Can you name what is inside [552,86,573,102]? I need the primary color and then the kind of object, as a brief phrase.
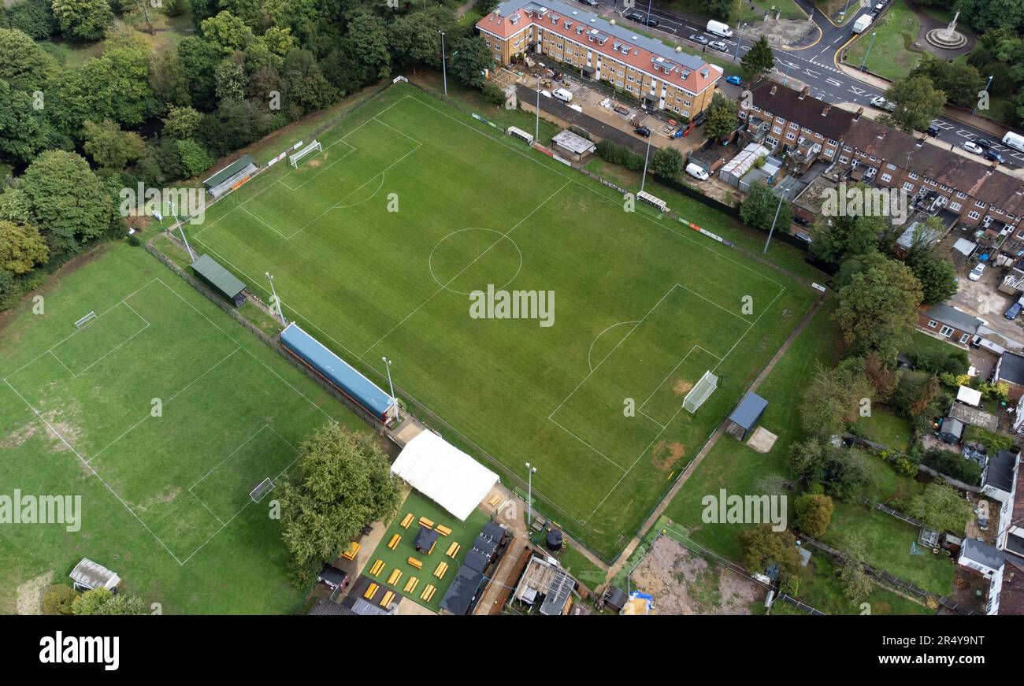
white vehicle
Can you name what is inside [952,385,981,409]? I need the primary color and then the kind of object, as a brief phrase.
white gazebo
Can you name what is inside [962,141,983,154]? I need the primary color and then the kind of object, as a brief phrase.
white vehicle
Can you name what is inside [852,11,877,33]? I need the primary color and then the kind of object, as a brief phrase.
white truck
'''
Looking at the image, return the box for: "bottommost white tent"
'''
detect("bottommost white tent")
[389,417,501,519]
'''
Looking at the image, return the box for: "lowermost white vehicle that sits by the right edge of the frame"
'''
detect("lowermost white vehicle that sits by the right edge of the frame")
[967,263,988,279]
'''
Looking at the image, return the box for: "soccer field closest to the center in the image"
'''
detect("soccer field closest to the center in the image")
[169,81,821,557]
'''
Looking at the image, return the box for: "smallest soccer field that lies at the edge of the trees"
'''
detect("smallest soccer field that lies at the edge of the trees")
[5,277,339,564]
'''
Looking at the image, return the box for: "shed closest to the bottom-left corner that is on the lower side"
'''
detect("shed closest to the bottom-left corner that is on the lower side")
[69,557,122,594]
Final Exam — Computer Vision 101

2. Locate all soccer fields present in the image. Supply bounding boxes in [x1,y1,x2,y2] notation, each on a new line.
[169,81,821,557]
[5,277,339,564]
